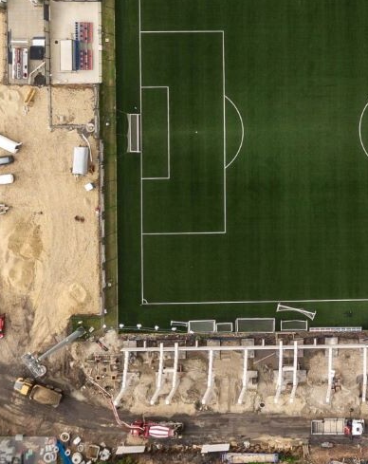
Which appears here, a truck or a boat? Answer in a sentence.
There is a truck in the scene.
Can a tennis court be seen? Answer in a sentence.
No, I find no tennis court anywhere in the image.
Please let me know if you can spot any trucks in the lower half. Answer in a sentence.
Yes, looking in the lower half, one can make out a truck.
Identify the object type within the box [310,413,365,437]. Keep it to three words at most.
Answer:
truck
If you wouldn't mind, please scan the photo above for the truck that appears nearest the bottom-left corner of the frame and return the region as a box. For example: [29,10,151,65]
[11,376,67,408]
